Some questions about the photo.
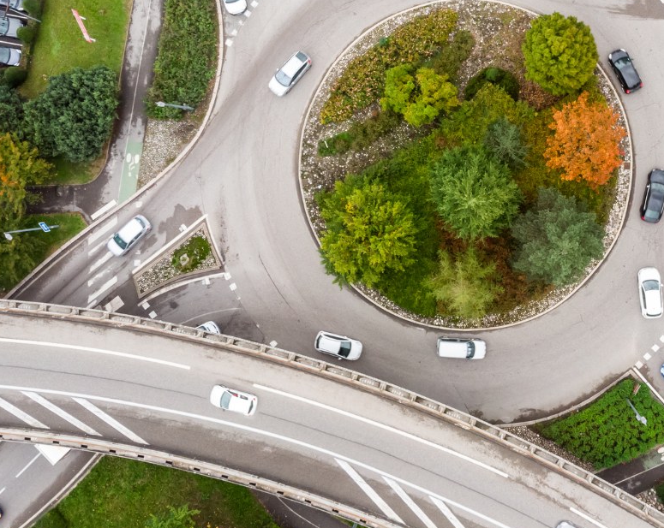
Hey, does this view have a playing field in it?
No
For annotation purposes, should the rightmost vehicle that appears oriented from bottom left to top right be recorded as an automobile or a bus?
automobile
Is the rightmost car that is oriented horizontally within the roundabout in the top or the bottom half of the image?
bottom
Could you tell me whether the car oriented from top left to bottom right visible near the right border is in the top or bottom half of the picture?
top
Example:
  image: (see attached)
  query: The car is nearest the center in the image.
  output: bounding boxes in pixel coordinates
[313,330,365,361]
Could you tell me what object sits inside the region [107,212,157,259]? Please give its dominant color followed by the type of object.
white car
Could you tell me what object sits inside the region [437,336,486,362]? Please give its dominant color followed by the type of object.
white car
